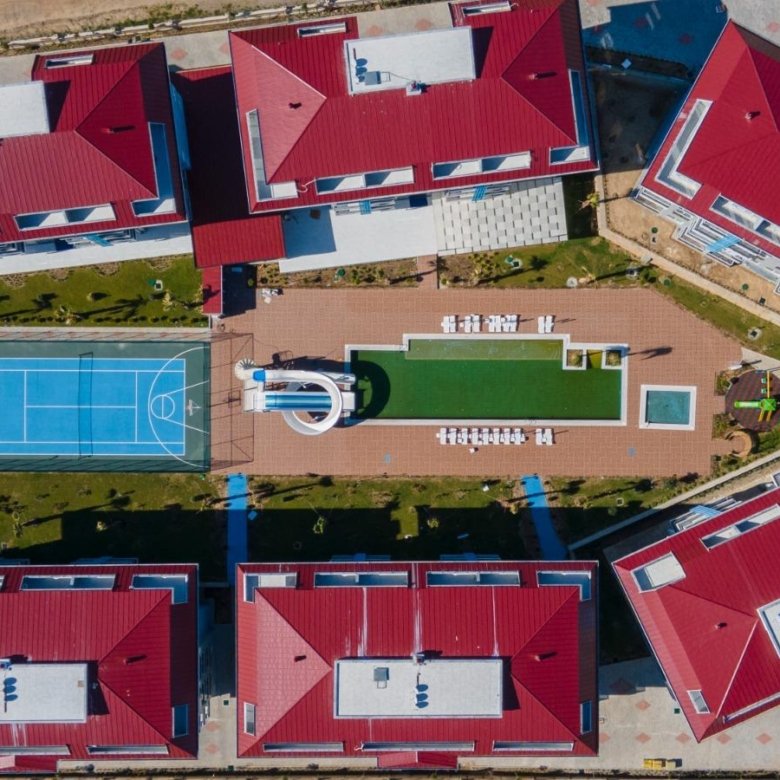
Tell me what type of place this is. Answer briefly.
residential area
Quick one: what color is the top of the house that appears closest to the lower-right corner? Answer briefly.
red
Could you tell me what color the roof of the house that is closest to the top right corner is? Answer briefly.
red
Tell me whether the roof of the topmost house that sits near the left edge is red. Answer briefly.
Yes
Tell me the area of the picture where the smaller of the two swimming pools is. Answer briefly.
right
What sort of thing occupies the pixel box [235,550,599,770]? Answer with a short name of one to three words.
house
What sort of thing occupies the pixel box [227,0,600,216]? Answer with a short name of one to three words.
house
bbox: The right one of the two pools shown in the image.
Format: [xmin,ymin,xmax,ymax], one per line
[640,385,696,430]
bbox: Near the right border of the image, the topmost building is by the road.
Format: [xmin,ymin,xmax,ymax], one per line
[631,18,780,301]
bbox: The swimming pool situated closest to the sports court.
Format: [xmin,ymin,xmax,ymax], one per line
[345,334,628,426]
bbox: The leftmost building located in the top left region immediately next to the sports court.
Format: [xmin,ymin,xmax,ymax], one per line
[0,37,189,256]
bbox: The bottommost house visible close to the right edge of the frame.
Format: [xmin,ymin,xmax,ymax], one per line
[610,462,780,745]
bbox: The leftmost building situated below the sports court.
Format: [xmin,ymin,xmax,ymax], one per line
[0,550,216,770]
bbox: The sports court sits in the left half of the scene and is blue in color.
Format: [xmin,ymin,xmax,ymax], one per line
[0,342,210,471]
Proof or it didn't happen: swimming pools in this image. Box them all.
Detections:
[345,334,628,426]
[640,385,696,430]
